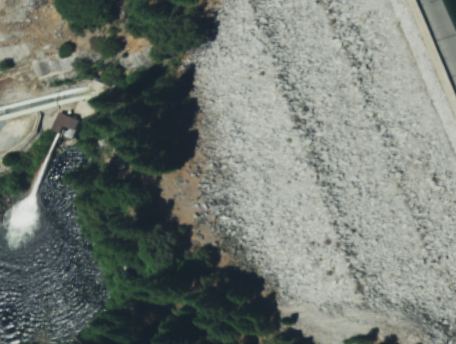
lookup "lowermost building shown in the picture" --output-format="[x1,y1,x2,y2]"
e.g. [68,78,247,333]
[50,112,78,140]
